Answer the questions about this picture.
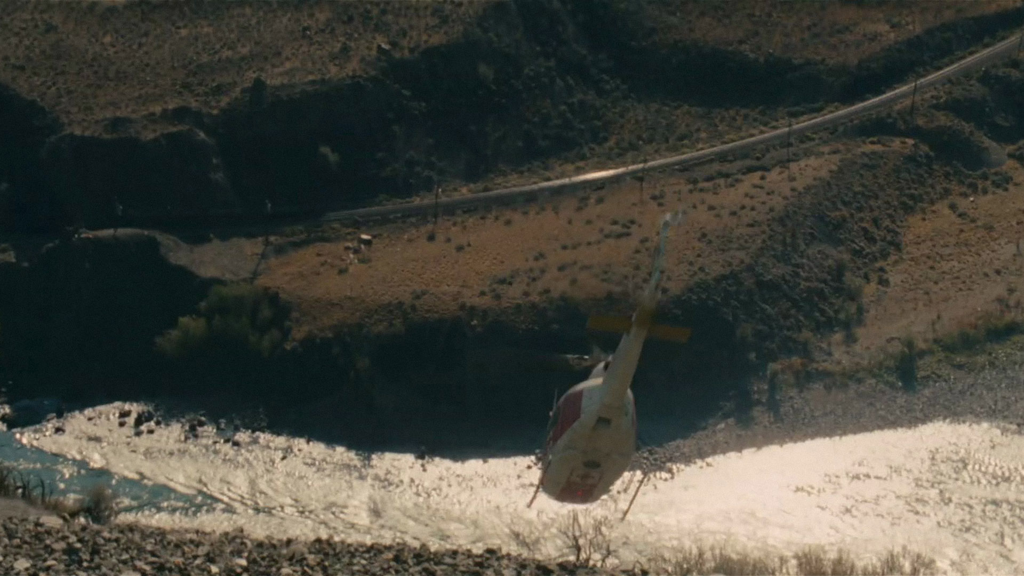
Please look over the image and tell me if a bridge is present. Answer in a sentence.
No, the frame has no bridge in it.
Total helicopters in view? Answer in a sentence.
I count just 1 helicopter.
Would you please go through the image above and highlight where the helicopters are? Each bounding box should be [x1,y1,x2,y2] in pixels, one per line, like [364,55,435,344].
[341,196,861,518]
